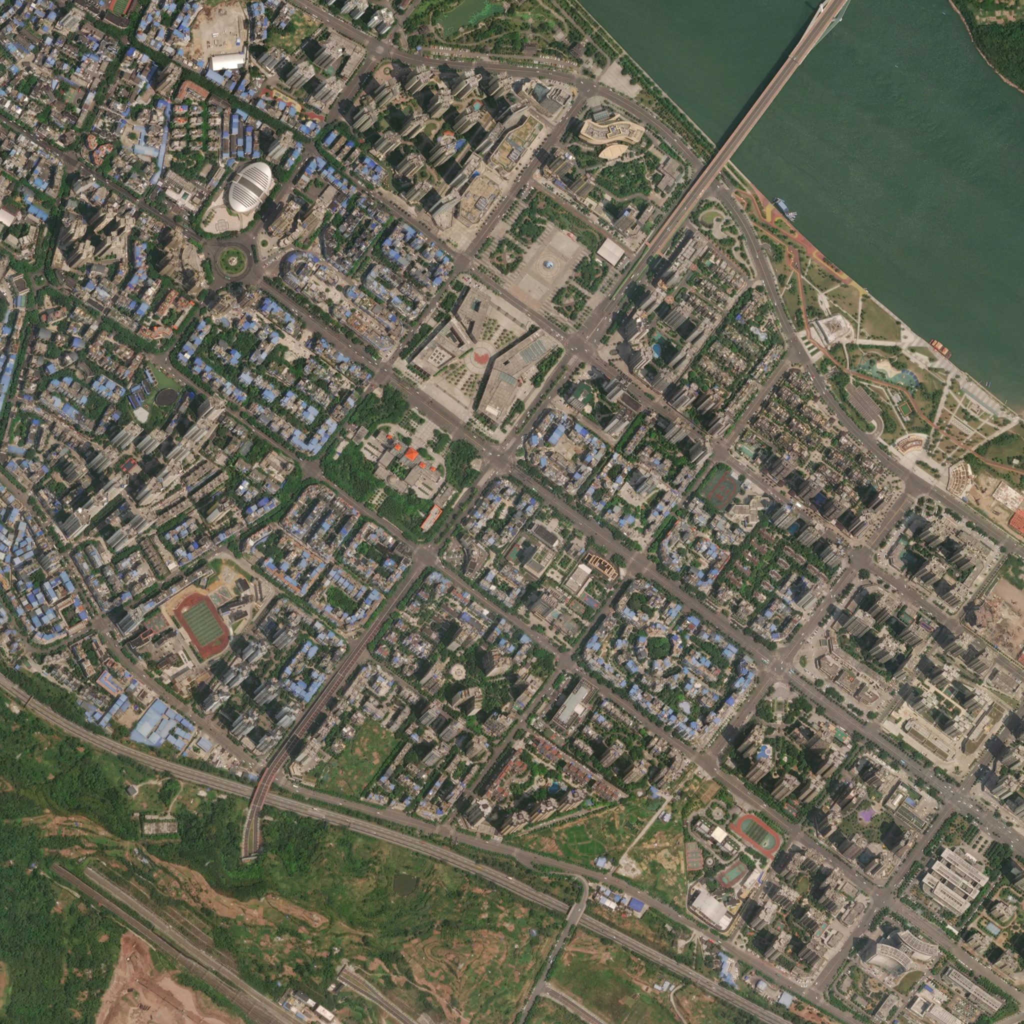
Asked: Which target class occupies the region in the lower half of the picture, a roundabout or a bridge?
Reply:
bridge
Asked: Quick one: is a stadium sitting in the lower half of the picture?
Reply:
No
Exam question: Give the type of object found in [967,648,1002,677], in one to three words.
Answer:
building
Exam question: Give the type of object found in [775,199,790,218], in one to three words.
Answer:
ship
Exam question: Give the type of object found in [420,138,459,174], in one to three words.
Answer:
building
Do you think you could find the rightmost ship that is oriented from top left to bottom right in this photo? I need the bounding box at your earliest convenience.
[930,340,951,358]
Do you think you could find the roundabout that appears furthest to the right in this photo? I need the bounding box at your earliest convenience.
[210,237,257,284]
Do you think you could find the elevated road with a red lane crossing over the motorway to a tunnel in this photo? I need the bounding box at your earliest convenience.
[241,596,397,858]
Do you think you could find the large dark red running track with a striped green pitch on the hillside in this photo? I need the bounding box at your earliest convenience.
[174,592,230,659]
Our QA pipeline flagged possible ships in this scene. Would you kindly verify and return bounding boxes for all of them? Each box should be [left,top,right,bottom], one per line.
[775,199,790,218]
[930,340,951,358]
